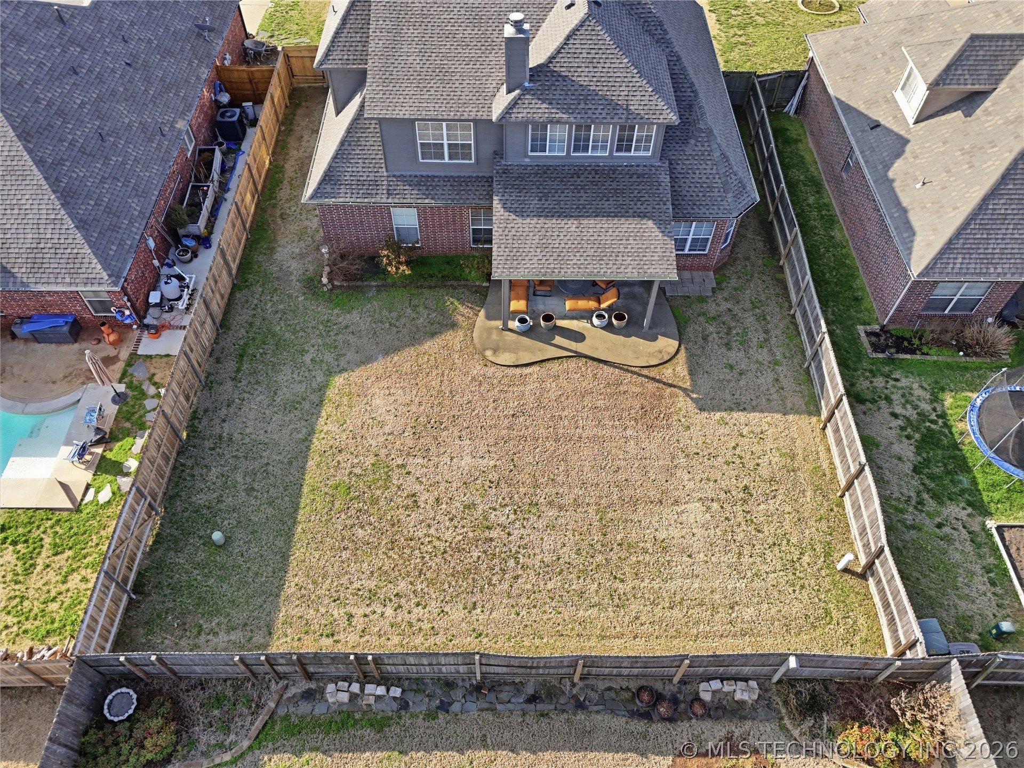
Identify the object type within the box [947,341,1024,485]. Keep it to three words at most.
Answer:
trampoline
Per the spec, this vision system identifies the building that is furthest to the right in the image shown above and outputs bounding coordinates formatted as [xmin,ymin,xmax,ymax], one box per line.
[791,0,1024,332]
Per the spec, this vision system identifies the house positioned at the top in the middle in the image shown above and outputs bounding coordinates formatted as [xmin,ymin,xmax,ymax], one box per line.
[299,0,764,330]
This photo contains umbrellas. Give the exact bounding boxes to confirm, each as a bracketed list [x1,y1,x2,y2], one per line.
[73,351,127,405]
